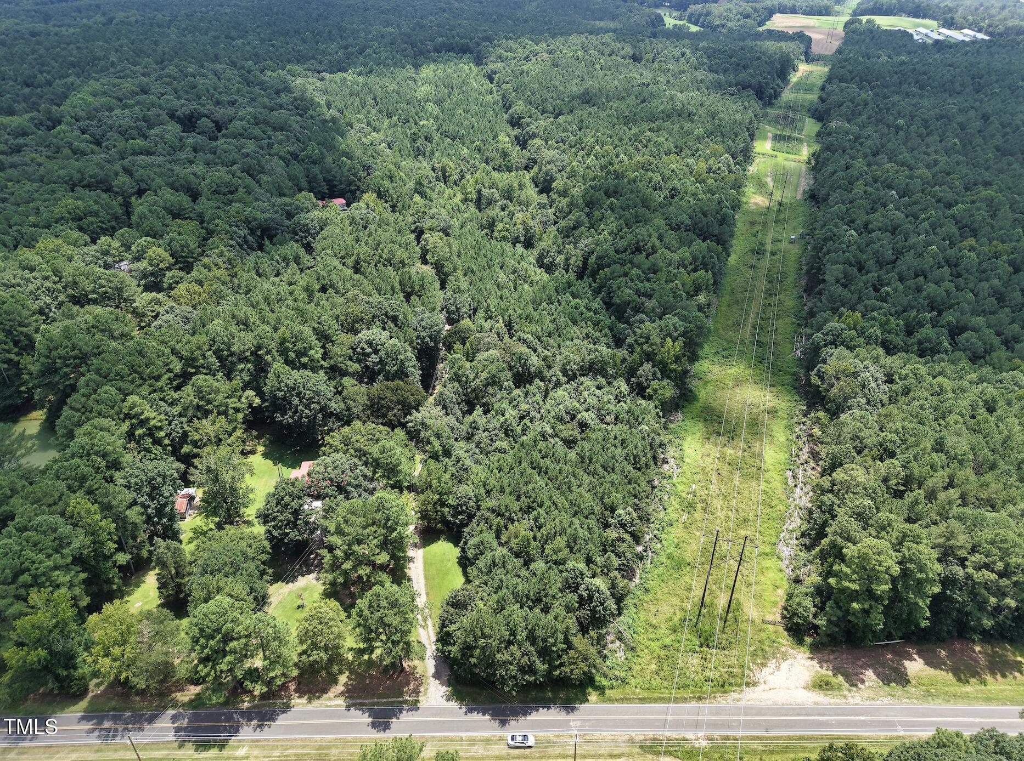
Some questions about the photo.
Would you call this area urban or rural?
rural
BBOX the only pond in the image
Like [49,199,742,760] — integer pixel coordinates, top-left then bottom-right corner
[0,425,62,480]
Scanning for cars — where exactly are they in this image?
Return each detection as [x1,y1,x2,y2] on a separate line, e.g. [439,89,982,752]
[508,735,534,749]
